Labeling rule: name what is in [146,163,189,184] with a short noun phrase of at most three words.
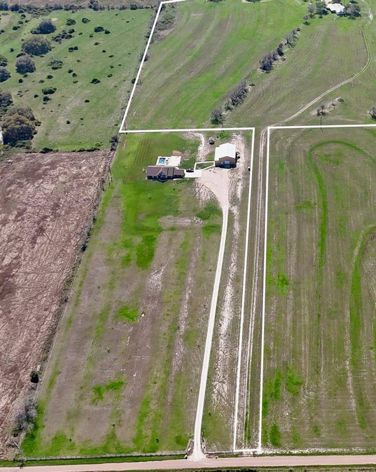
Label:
house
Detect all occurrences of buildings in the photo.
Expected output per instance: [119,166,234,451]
[327,0,348,14]
[213,141,238,167]
[146,163,189,184]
